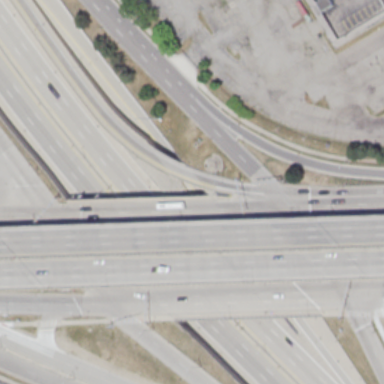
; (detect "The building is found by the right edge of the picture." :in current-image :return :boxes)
[316,0,384,38]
